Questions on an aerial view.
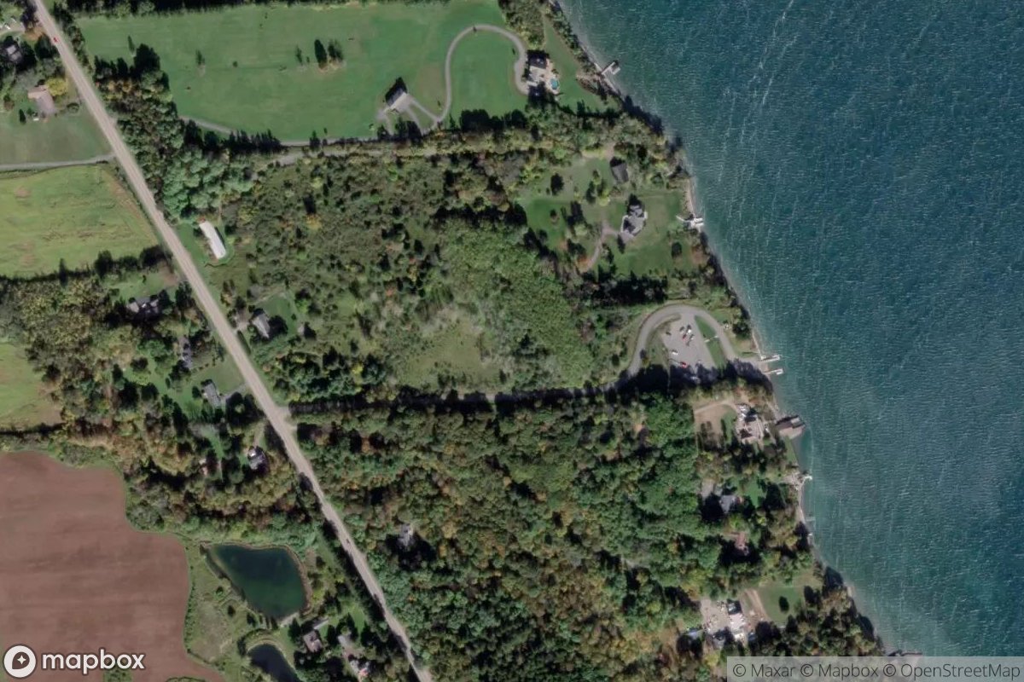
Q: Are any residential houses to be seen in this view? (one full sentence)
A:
Yes, a residential house can be made out from above.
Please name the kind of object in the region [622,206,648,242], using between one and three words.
house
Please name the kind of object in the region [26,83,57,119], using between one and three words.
house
